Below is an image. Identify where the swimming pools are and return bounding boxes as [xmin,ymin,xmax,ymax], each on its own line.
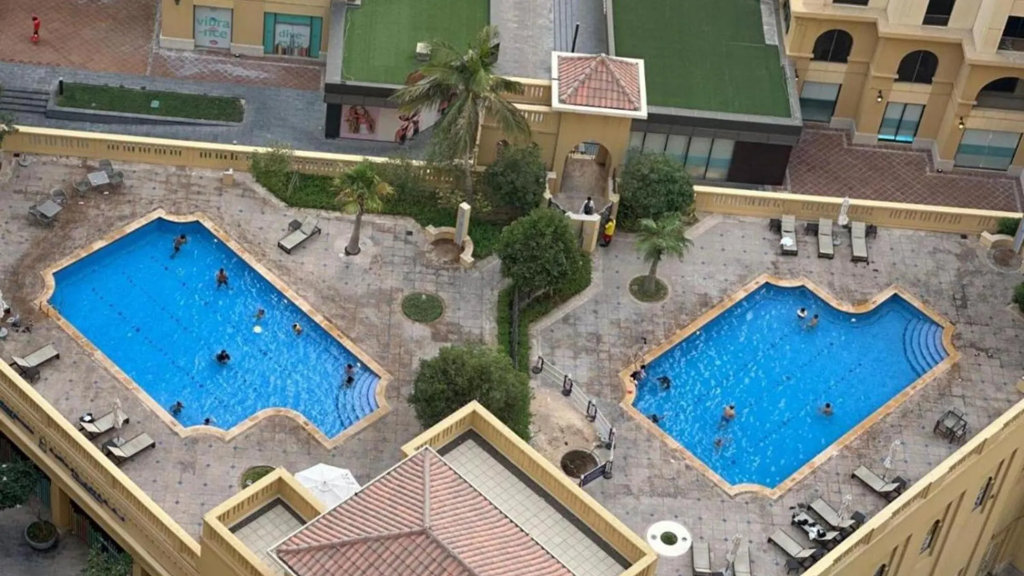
[622,271,960,496]
[38,206,391,447]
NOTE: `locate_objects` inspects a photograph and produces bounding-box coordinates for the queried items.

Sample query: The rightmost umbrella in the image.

[879,439,901,483]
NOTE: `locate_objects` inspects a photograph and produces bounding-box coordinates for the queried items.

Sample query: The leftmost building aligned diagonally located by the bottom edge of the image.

[0,397,185,576]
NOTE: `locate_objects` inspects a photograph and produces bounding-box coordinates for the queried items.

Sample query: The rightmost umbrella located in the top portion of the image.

[834,197,849,247]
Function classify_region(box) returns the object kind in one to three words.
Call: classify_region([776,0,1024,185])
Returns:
building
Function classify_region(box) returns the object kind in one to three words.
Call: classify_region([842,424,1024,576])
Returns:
building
